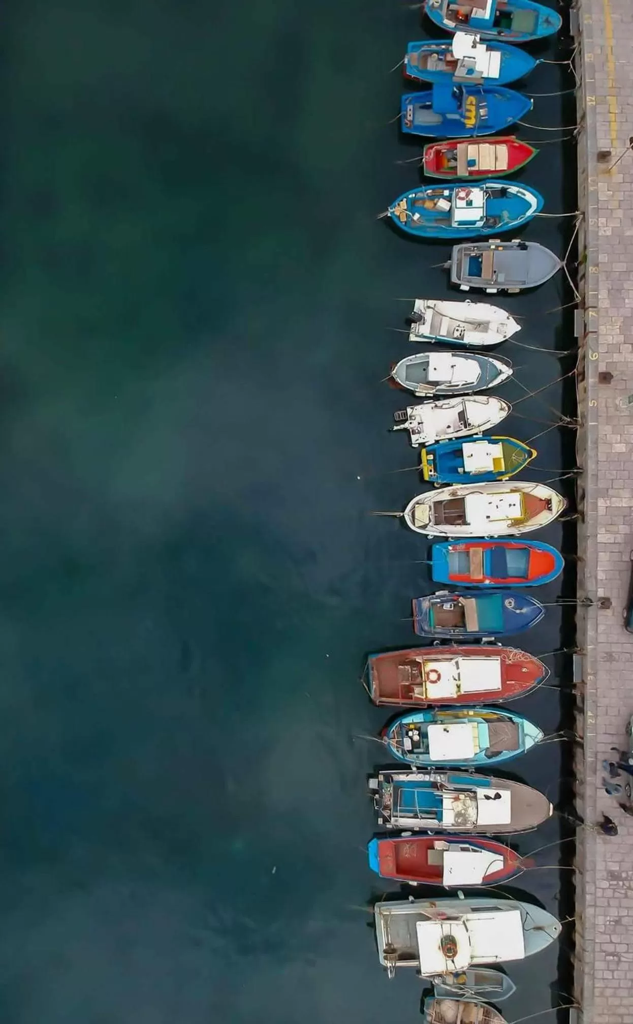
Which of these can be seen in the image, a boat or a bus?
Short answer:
boat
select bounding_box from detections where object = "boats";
[368,645,550,708]
[434,966,518,1002]
[368,831,535,891]
[423,135,541,181]
[409,297,523,348]
[422,992,508,1024]
[369,765,554,837]
[381,705,547,770]
[411,589,547,646]
[398,481,569,541]
[423,0,564,45]
[420,436,539,489]
[442,238,564,293]
[388,179,547,240]
[388,351,516,397]
[432,538,567,587]
[401,82,534,142]
[403,32,539,87]
[388,395,514,448]
[375,885,565,979]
